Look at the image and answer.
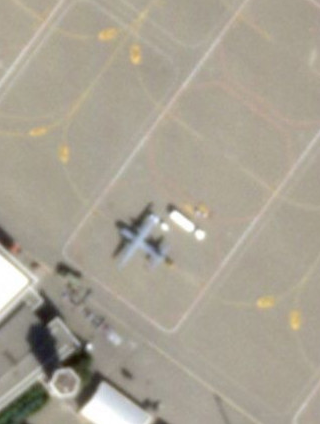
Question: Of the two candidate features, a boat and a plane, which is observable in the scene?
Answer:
plane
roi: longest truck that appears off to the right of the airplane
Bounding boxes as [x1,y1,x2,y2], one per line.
[171,213,195,234]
